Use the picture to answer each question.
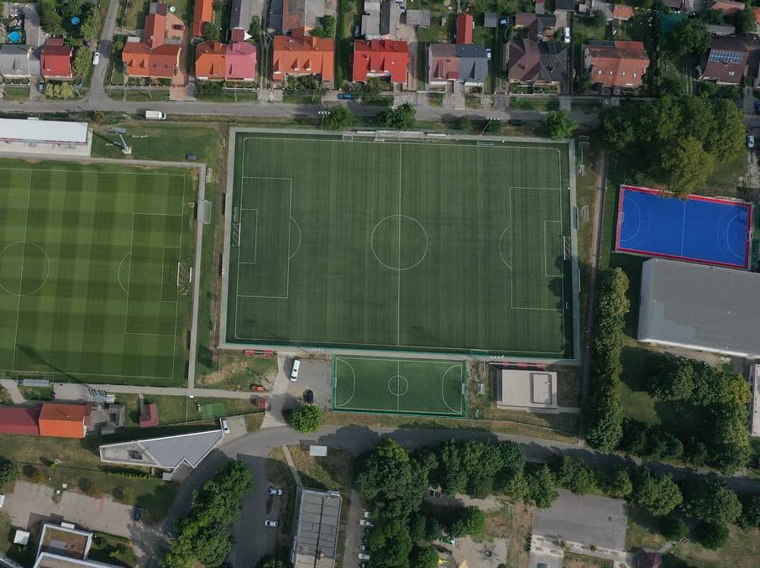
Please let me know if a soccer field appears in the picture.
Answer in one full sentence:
Yes, a soccer field is visible in the scene.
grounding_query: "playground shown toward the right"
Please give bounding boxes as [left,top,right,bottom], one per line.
[443,536,511,568]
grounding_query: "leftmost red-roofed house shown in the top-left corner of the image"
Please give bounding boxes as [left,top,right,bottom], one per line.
[40,38,74,81]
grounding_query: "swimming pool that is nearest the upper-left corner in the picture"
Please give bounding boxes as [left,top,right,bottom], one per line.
[8,30,22,44]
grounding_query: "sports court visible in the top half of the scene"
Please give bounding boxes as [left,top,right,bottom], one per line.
[616,184,754,269]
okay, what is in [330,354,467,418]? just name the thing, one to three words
soccer field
